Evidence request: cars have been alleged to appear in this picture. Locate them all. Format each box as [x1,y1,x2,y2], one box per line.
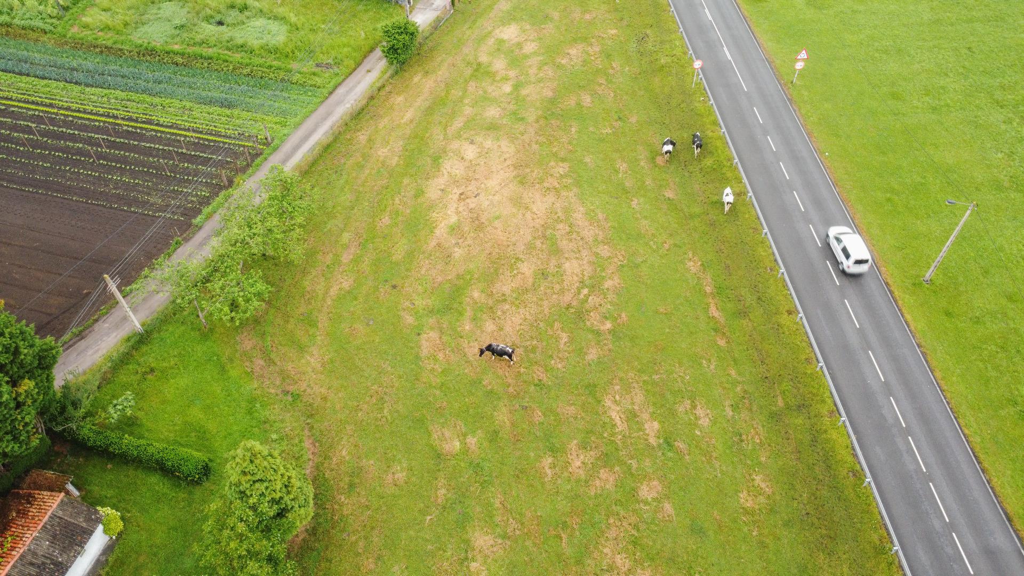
[830,227,877,274]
